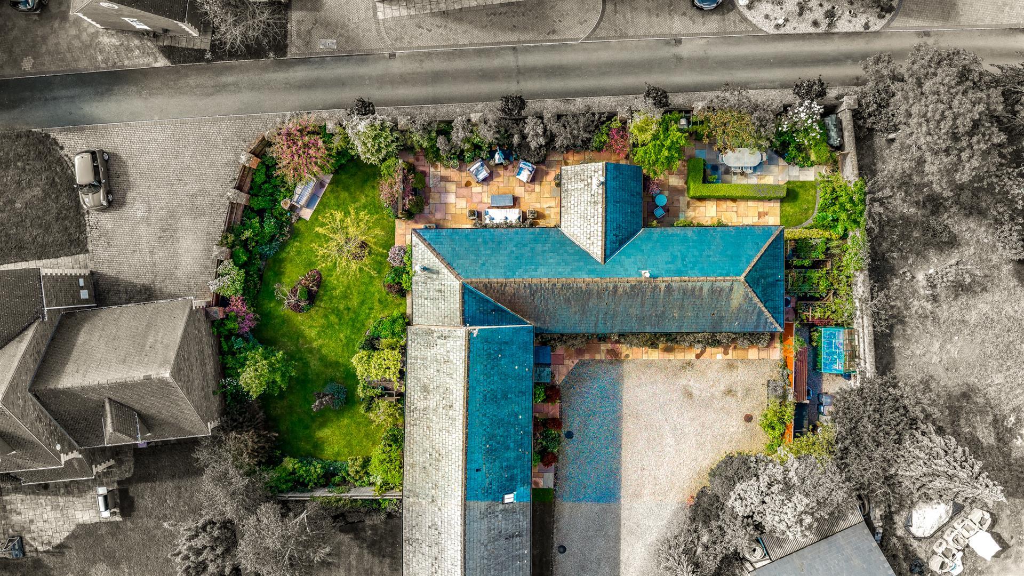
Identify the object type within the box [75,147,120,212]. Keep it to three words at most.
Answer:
car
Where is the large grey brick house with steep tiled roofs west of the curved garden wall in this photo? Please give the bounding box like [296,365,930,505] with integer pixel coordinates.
[0,268,225,490]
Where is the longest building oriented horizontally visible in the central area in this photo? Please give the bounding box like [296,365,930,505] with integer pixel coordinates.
[411,161,786,334]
